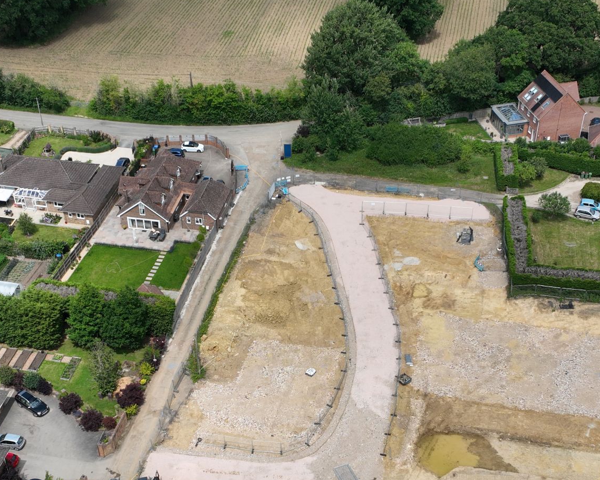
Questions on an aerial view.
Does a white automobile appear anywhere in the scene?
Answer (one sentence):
Yes, a white automobile appears in the view.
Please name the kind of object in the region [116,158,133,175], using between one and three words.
car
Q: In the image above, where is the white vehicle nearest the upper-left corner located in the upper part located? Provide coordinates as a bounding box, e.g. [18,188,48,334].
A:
[178,137,205,154]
